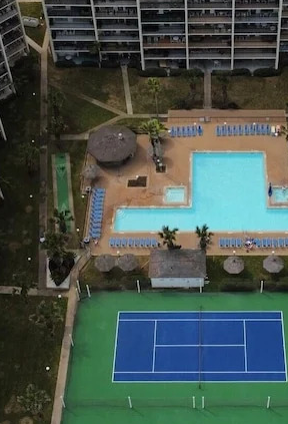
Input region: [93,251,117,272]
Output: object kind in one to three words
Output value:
umbrella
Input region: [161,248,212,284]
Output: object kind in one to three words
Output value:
shed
